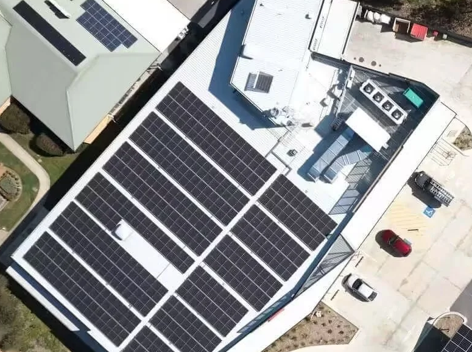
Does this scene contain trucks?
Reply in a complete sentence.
Yes, I can see a truck in this picture.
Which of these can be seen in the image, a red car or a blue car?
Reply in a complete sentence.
This aerial view contains a red car.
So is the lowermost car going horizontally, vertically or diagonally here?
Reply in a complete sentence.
In this picture, the lowermost car lies diagonally.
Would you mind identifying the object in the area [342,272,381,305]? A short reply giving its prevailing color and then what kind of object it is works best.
white car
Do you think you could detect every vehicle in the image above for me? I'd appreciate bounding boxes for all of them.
[377,229,415,259]
[411,171,457,210]
[342,272,381,305]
